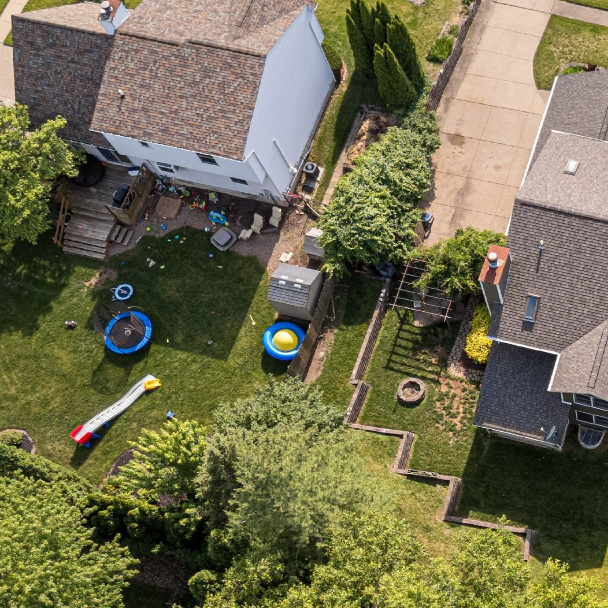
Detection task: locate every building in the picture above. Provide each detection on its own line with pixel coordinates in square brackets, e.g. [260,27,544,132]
[473,64,608,460]
[265,261,321,318]
[13,0,342,208]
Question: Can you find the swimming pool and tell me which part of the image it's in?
center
